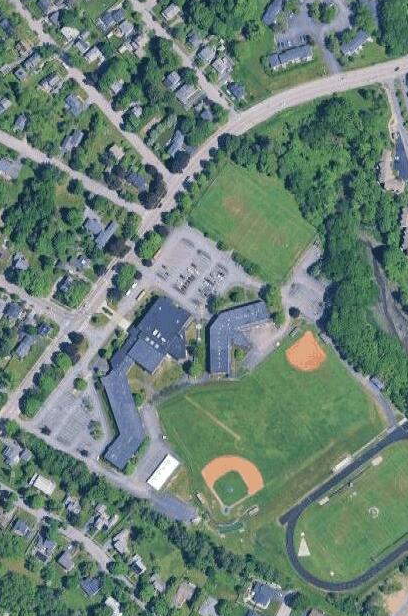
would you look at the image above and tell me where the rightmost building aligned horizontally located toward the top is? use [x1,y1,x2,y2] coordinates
[266,44,313,68]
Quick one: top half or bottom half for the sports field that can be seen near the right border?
bottom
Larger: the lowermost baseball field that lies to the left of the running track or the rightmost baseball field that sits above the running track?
the lowermost baseball field that lies to the left of the running track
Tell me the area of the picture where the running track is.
bottom right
